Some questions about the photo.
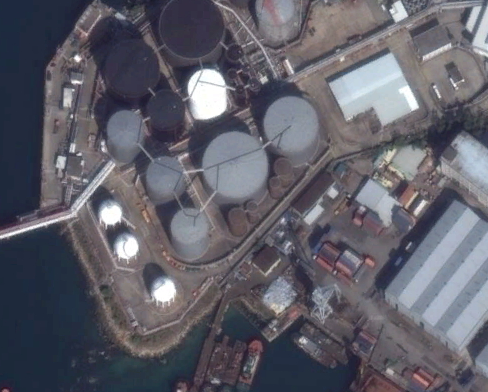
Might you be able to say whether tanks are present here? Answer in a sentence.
Yes, there's a tank down there.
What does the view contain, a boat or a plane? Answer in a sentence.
The image shows a boat.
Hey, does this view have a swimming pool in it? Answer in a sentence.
No, I can see no swimming pool in this picture.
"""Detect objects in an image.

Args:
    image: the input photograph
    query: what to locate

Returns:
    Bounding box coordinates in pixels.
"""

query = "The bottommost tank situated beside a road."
[152,276,182,307]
